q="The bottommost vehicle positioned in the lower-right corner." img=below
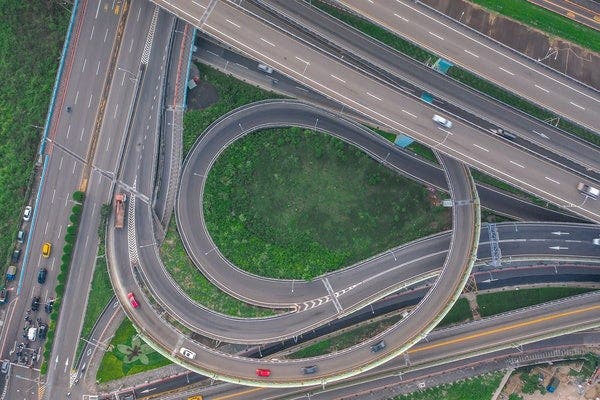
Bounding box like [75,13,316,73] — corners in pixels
[547,377,564,398]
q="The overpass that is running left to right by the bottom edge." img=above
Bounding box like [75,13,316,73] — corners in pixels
[156,289,600,400]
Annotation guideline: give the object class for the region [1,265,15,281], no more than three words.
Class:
vehicle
